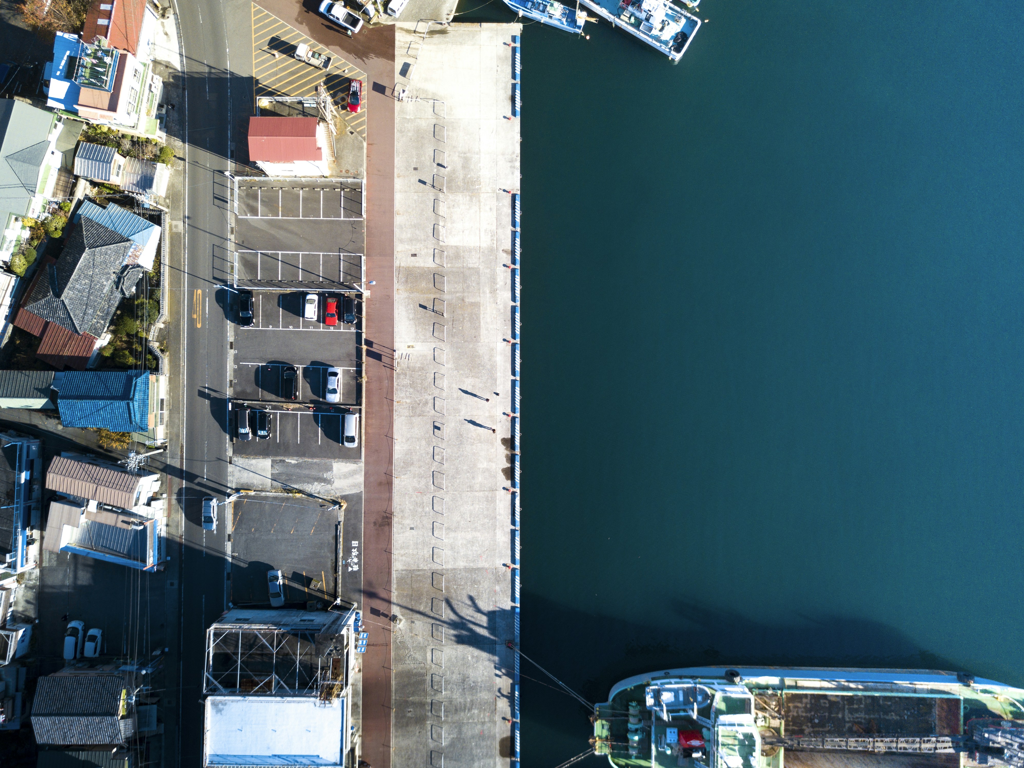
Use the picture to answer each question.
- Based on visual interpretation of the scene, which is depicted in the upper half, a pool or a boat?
boat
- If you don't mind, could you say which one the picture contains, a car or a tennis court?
car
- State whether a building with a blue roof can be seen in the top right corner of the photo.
No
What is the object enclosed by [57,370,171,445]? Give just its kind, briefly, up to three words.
house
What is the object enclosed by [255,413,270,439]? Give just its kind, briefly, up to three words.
car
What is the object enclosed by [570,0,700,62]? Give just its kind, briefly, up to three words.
boat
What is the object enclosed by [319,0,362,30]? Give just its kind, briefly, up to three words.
truck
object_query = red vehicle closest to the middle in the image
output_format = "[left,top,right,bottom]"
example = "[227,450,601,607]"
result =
[323,297,338,326]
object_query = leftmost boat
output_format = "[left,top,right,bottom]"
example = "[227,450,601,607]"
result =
[500,0,593,38]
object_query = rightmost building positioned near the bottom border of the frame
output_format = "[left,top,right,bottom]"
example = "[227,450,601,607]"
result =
[201,608,354,768]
